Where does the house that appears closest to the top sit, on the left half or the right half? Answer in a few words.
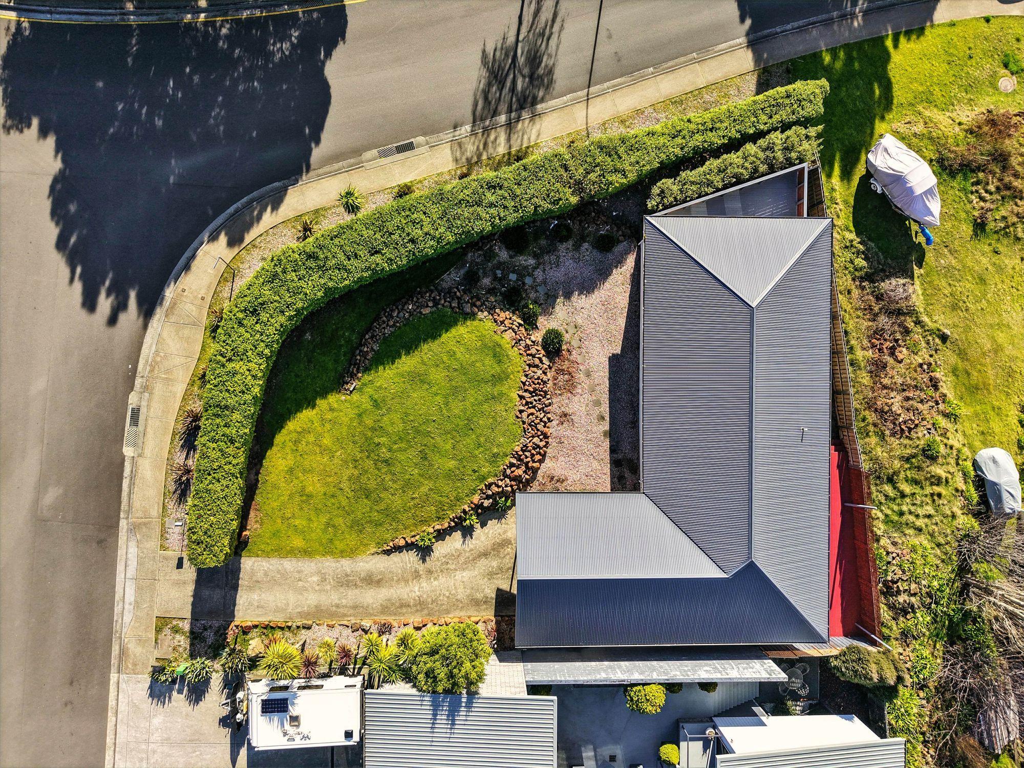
right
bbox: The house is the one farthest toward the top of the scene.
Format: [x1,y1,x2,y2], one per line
[515,214,836,648]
